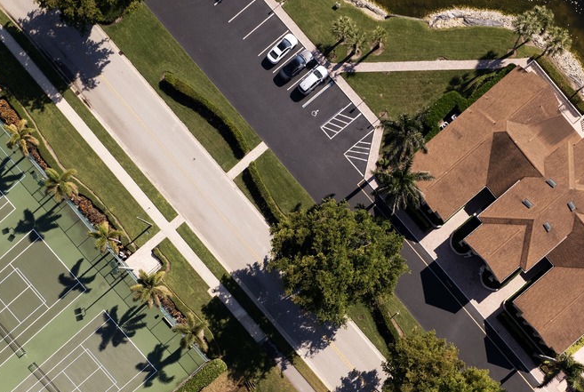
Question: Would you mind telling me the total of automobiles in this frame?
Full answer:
The count of automobiles comes to 3.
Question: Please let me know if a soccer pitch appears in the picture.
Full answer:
No, there isn't any soccer pitch down there.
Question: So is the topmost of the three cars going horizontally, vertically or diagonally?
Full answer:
The topmost of the three cars is oriented diagonally.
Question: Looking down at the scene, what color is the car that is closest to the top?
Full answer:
The color of the car that is closest to the top is white.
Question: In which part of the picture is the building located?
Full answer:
The building sits in the right section of the image.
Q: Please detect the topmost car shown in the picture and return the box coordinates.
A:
[265,33,299,64]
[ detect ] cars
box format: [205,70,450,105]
[265,33,299,64]
[279,50,313,81]
[298,64,330,96]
